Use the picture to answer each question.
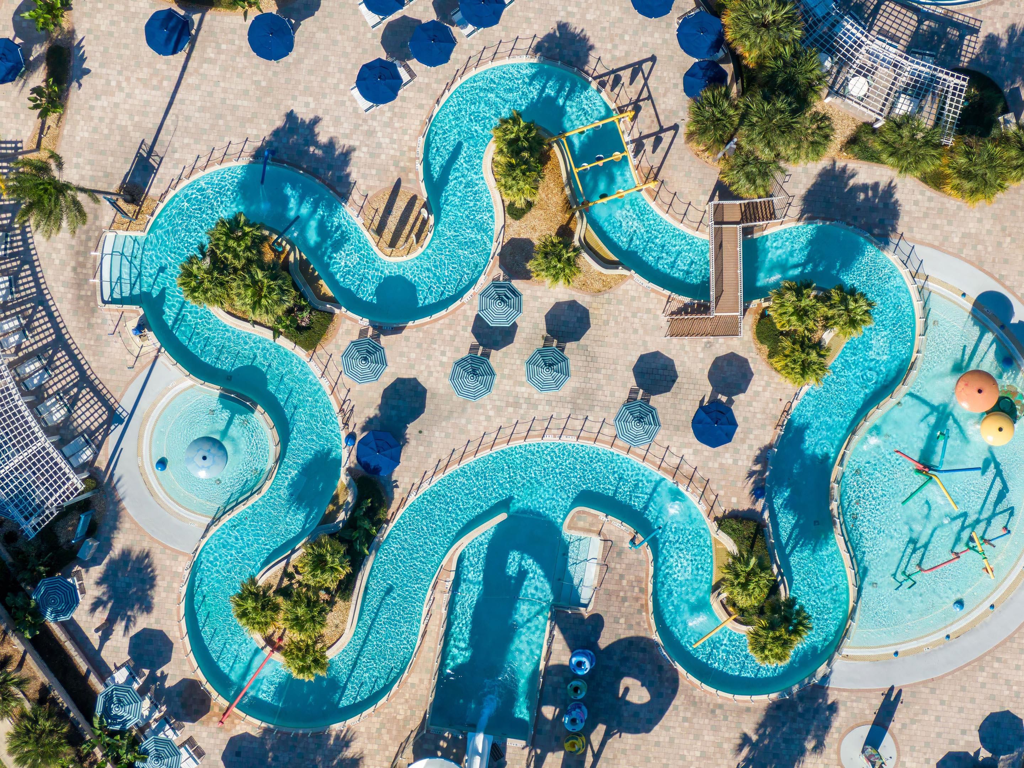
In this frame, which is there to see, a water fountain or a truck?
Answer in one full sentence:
Visible in the photo is a water fountain.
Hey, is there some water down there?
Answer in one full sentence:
Yes, the picture does contain water.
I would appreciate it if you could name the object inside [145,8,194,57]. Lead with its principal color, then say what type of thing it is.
blue umbrella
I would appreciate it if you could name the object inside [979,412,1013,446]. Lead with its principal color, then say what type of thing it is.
yellow fountain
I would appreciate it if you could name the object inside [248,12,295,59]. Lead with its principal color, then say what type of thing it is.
blue umbrella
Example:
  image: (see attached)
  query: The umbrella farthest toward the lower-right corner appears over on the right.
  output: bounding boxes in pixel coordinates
[689,401,739,449]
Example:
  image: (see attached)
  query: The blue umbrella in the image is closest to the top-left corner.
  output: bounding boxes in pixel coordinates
[0,38,25,86]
